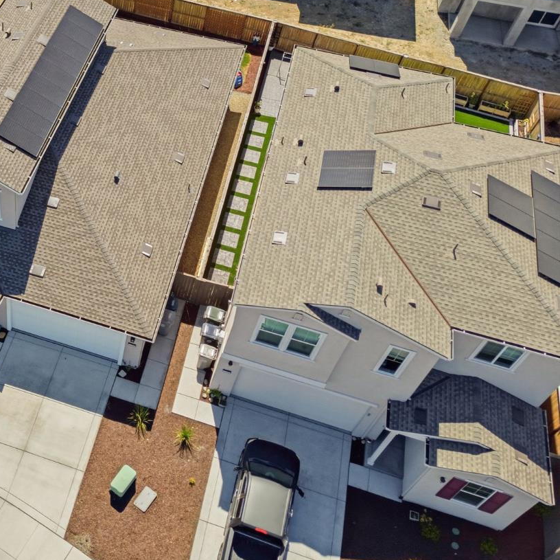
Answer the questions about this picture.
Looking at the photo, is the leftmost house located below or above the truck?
above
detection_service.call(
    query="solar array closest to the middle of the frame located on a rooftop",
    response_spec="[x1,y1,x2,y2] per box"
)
[316,150,375,190]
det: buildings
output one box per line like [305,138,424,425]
[436,0,560,52]
[209,45,560,531]
[0,0,246,368]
